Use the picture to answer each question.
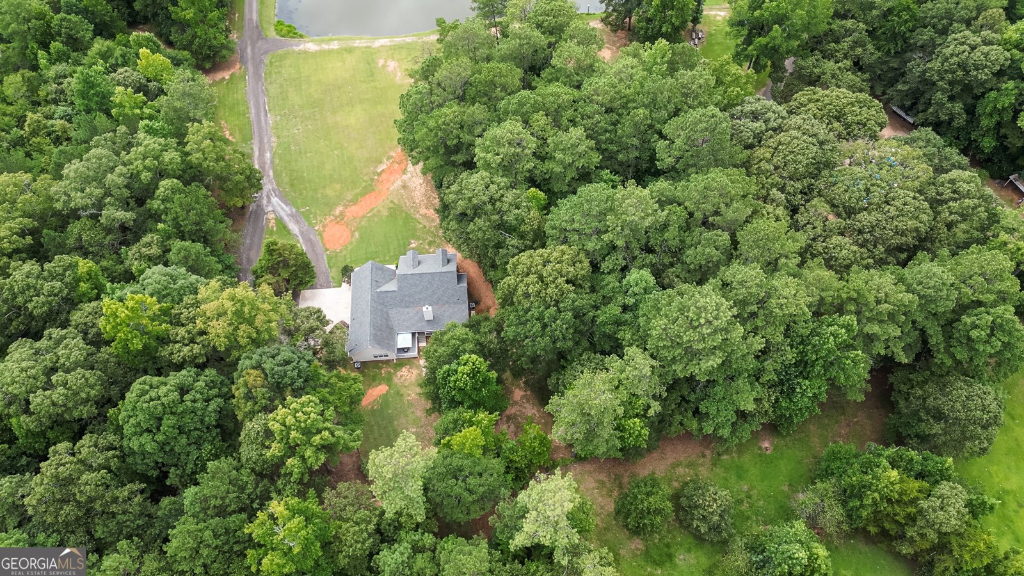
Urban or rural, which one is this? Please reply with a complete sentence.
The area is rural.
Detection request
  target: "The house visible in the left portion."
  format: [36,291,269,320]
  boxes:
[344,248,470,365]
